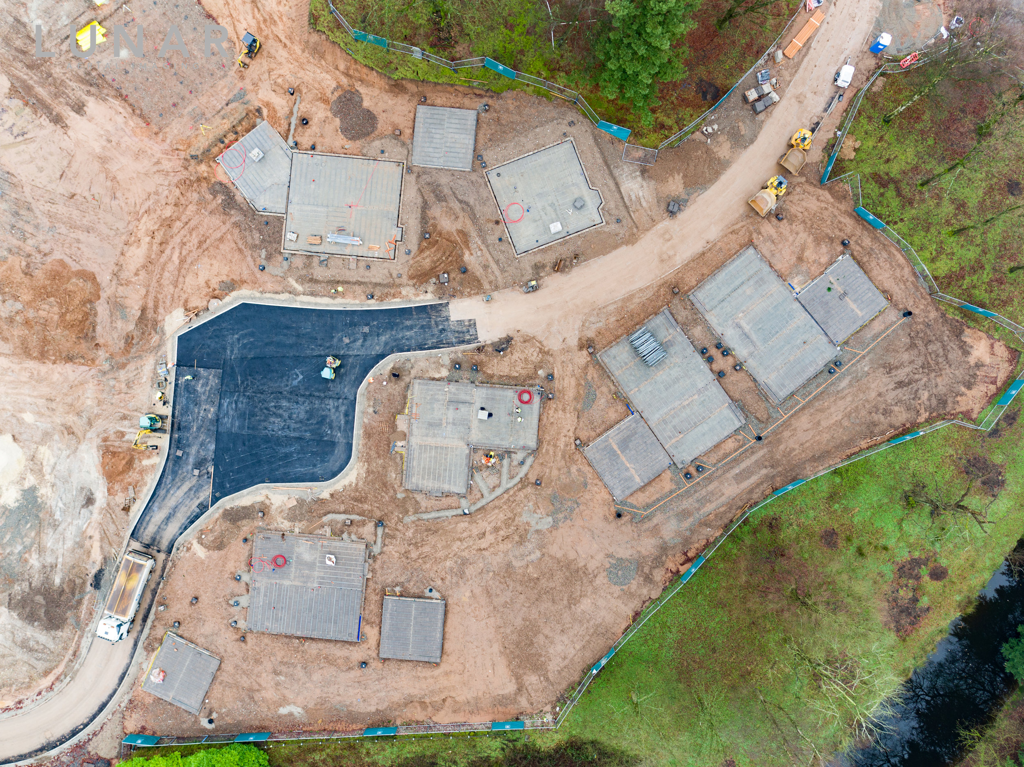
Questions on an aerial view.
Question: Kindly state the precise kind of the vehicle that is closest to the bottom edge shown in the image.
truck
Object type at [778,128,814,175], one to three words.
truck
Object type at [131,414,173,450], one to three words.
work vehicle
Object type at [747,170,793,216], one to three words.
truck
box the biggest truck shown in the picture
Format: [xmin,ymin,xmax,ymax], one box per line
[94,545,158,644]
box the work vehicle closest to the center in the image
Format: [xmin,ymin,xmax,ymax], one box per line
[321,354,340,380]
